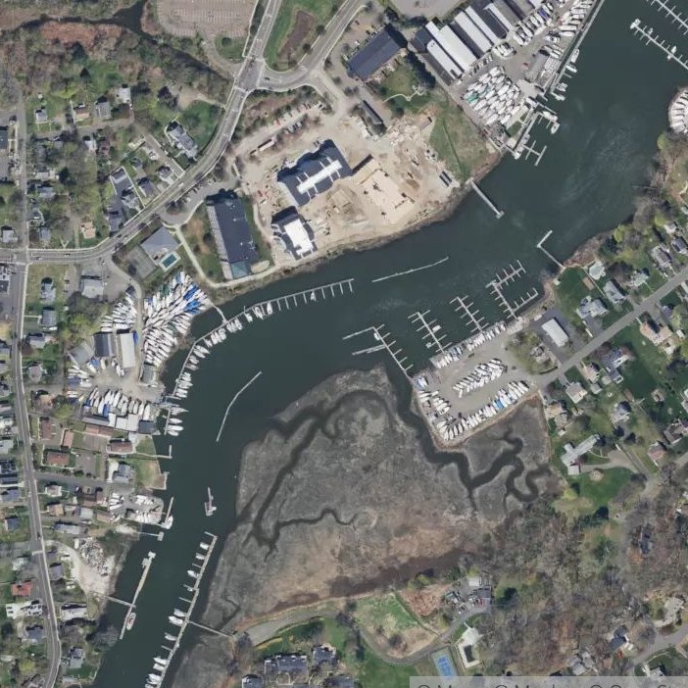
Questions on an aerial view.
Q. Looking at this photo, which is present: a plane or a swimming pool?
swimming pool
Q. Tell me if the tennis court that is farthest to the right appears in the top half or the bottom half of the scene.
bottom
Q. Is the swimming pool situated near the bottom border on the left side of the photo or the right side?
right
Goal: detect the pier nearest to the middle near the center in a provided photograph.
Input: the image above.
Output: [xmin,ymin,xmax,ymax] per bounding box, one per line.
[342,324,415,380]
